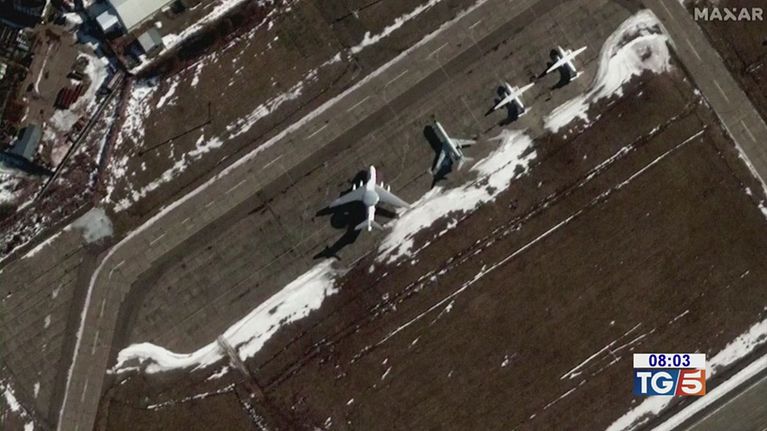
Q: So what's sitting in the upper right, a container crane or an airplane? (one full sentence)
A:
What appears in the upper right is an airplane.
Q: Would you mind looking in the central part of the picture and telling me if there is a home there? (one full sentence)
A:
No, there is no home in the central part of the picture.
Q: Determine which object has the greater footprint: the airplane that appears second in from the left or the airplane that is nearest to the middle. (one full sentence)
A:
The airplane that appears second in from the left is smaller than the airplane that is nearest to the middle.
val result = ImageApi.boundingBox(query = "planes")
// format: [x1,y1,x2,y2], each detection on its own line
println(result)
[330,166,411,230]
[494,80,536,115]
[545,44,588,78]
[434,124,479,170]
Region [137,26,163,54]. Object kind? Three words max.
house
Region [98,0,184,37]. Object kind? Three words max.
hangar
